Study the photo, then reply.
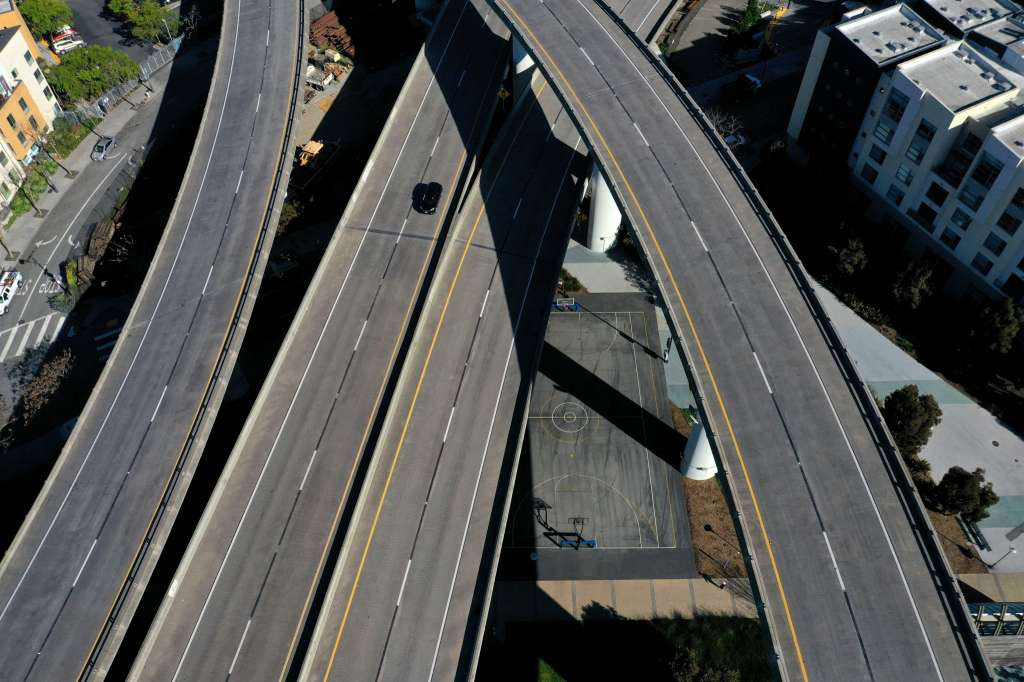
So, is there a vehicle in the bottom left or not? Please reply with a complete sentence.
No, there is no vehicle in the bottom left.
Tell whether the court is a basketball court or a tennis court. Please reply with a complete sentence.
The court appears to be a basketball court.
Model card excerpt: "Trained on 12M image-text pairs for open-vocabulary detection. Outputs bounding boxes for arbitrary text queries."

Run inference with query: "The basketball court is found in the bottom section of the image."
[495,293,697,578]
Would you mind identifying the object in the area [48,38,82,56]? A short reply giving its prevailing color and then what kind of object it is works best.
white car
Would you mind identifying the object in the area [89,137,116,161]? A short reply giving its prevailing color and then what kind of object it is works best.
gray car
